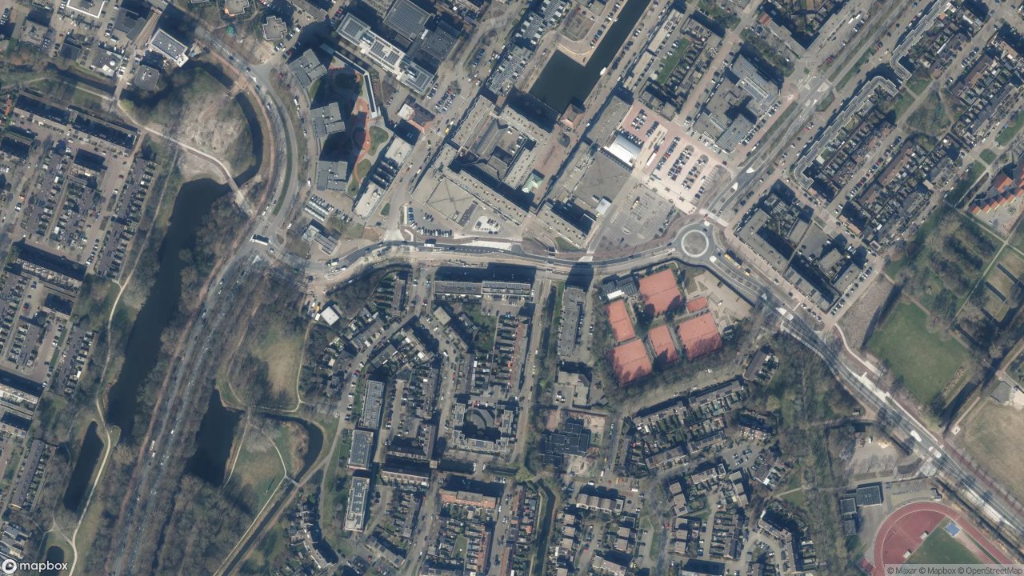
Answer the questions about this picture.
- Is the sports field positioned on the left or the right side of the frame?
right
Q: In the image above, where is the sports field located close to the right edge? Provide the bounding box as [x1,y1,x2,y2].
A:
[893,516,1009,576]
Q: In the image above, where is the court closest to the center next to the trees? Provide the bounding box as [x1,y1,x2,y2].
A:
[607,300,635,341]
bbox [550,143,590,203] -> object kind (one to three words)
building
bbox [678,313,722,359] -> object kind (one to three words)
tennis court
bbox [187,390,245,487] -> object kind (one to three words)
pond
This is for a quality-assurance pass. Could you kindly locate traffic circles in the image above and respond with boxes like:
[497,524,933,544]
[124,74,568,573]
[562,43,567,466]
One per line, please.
[674,222,716,264]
